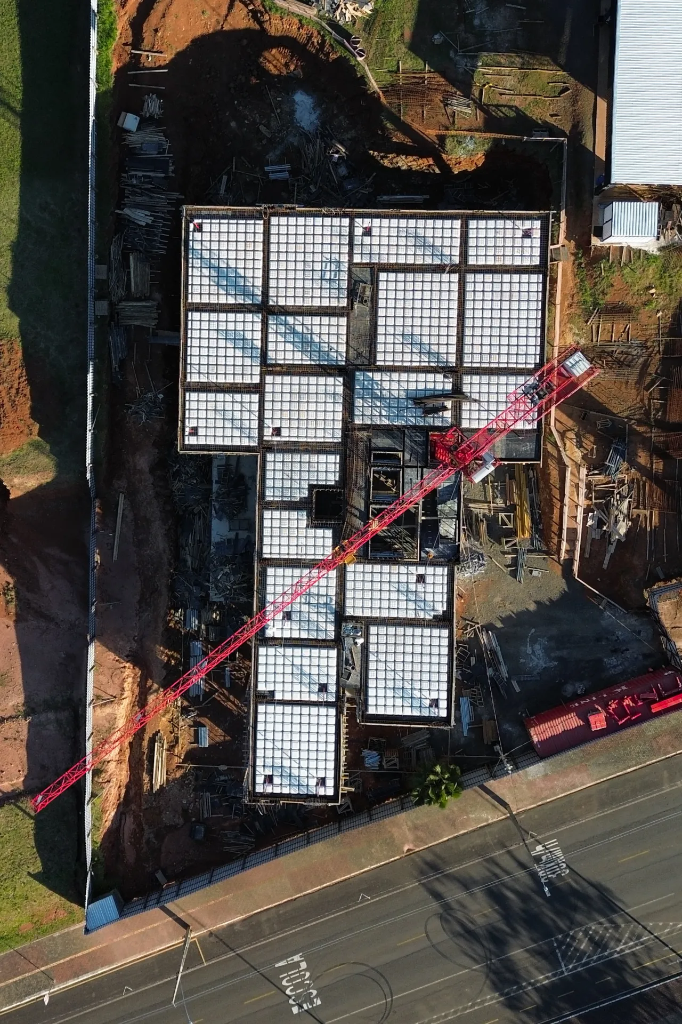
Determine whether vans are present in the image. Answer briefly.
No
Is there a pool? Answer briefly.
No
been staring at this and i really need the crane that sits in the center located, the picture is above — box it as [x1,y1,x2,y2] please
[29,337,603,810]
